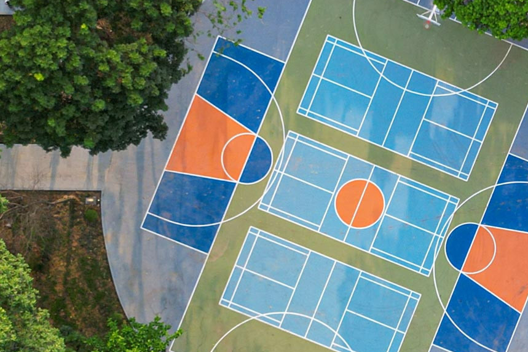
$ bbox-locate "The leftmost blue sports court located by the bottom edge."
[219,226,422,352]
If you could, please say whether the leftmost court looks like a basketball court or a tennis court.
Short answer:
basketball court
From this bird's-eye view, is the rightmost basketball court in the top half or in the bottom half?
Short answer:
bottom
